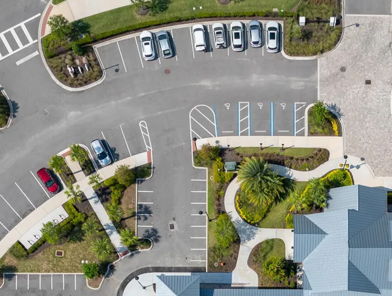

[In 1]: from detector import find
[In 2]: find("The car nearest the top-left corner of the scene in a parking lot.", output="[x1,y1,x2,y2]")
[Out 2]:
[139,31,156,62]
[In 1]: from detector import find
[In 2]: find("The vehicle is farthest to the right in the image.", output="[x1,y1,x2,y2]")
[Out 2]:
[265,22,280,55]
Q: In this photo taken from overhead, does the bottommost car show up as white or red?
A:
red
